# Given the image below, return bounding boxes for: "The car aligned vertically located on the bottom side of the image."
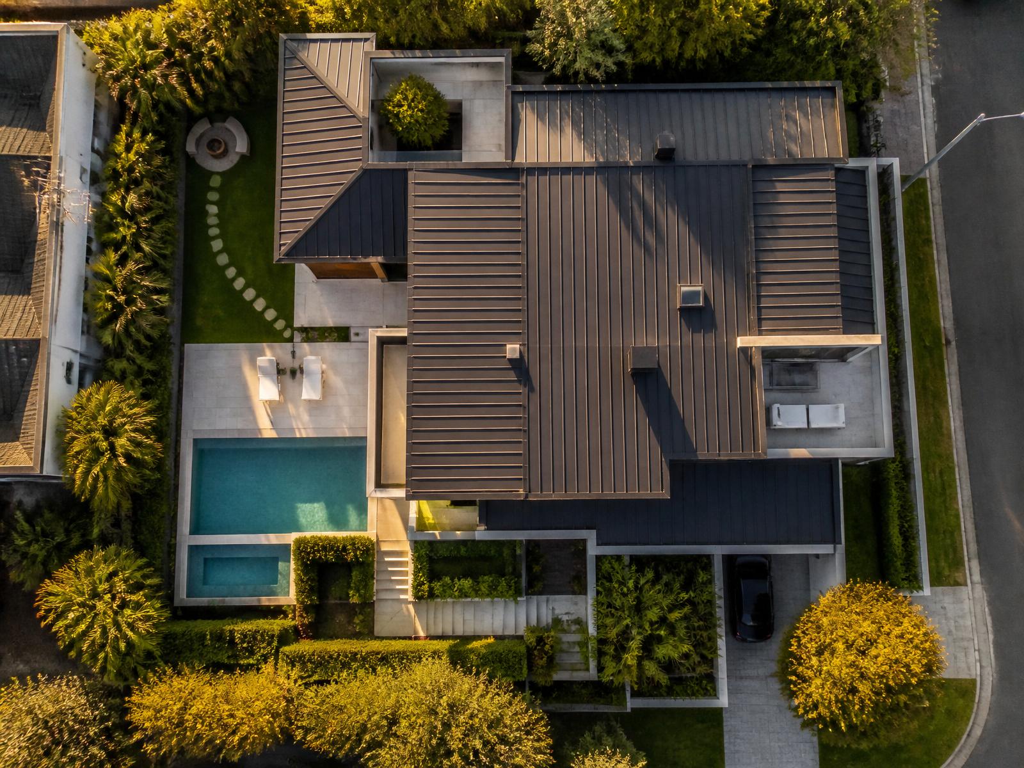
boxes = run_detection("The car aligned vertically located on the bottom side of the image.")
[731,553,774,645]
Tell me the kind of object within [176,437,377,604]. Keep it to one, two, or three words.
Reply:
swimming pool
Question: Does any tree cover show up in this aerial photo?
Yes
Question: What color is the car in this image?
black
